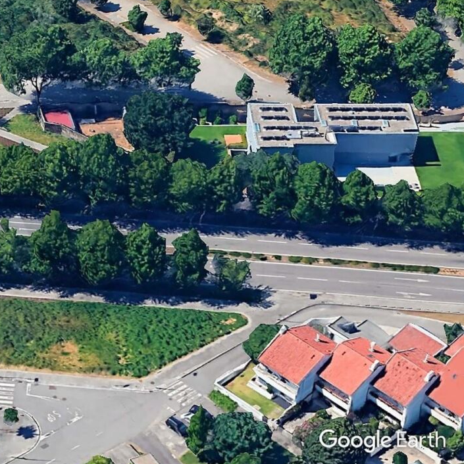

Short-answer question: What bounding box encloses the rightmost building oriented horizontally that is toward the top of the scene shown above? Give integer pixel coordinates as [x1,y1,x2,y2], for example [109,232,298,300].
[244,103,420,174]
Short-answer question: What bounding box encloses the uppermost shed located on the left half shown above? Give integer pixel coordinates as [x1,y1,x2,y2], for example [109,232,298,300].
[43,110,74,138]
